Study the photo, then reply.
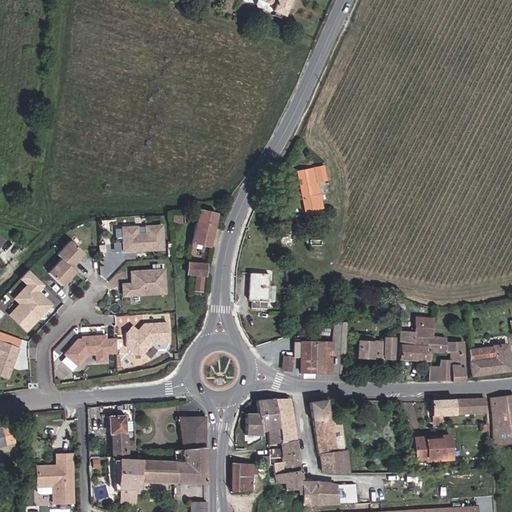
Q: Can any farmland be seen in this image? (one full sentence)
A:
Yes, there's farmland in this view.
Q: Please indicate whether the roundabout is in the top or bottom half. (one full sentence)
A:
You can find the roundabout in the bottom half.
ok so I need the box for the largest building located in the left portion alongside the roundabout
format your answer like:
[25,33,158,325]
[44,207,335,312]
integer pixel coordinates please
[120,448,209,504]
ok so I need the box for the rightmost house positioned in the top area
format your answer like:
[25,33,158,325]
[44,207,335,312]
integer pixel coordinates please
[298,166,328,212]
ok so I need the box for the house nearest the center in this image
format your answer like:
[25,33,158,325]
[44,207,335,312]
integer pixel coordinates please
[250,270,276,302]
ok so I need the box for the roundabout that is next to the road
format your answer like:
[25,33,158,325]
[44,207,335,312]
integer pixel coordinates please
[168,307,280,426]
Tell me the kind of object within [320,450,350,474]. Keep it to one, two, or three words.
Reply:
barn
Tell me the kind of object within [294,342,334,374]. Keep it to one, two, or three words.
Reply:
barn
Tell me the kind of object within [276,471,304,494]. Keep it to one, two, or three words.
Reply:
house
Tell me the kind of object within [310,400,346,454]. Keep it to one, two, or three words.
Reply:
house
